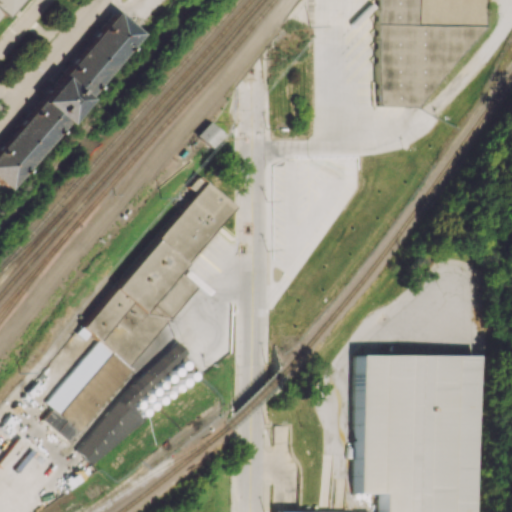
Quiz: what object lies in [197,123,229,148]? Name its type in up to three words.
shed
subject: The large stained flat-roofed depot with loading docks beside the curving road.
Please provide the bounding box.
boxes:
[370,0,488,108]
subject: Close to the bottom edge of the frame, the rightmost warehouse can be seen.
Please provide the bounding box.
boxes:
[352,354,485,512]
